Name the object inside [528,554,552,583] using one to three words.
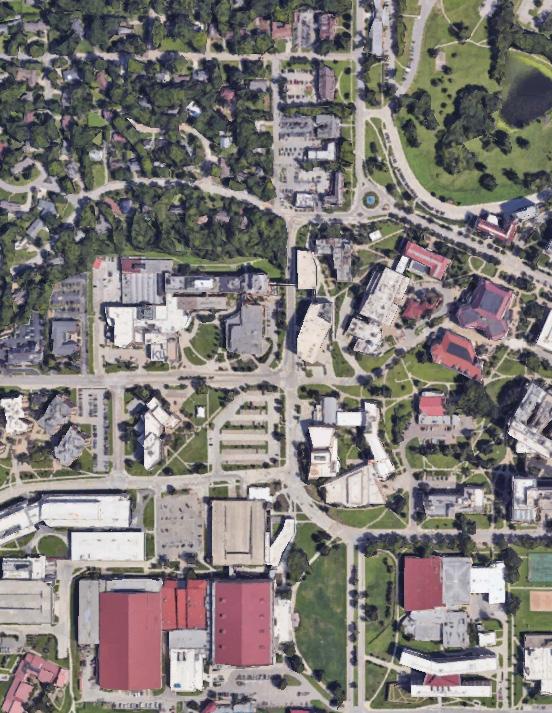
tennis court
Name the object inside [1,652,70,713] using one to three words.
house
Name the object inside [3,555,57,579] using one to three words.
building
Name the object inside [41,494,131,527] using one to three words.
building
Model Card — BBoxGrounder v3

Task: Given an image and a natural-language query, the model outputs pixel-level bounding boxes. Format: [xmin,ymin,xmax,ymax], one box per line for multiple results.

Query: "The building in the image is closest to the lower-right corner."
[523,634,552,695]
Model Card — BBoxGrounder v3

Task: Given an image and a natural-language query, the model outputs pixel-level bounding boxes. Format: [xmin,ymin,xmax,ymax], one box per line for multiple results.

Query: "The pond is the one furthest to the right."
[500,53,552,127]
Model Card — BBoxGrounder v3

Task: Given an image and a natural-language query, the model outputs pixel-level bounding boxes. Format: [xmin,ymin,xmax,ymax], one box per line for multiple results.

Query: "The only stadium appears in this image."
[212,501,269,565]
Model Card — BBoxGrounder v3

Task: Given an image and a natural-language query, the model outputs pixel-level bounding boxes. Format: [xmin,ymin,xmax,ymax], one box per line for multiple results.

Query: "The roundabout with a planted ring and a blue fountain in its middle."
[349,169,393,223]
